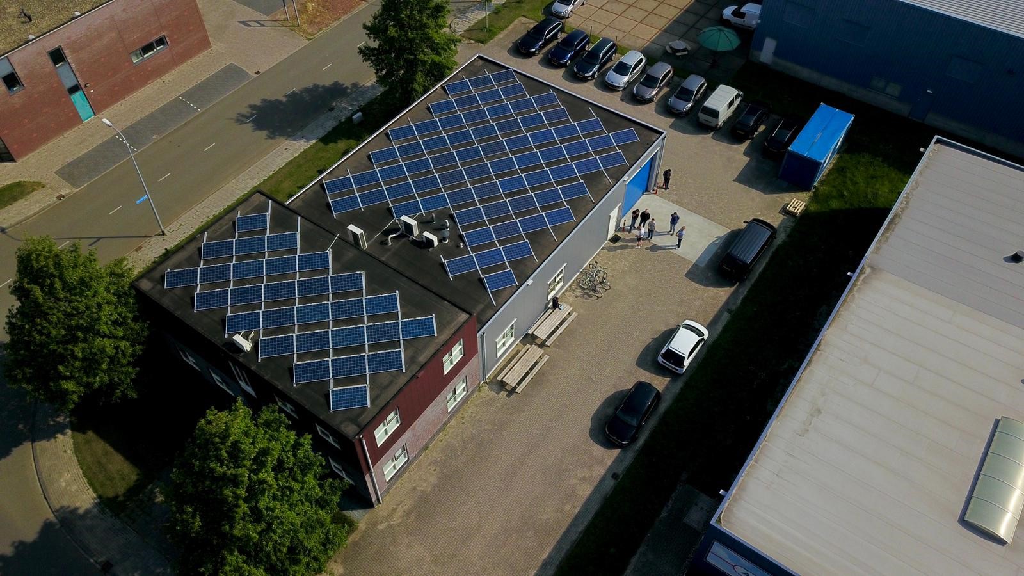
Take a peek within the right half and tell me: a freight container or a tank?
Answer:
freight container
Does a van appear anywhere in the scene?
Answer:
Yes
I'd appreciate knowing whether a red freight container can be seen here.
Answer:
No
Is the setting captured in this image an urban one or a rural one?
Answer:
urban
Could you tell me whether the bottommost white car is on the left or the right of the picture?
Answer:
right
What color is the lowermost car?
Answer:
black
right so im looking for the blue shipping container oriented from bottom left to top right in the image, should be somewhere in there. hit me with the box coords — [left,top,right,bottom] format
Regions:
[778,104,853,190]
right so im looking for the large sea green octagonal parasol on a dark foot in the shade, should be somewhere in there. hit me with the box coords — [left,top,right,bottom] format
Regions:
[694,28,737,67]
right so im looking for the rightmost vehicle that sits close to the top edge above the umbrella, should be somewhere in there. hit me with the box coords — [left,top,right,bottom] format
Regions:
[719,0,765,31]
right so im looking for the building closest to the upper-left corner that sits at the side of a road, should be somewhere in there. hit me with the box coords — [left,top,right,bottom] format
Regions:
[0,0,212,168]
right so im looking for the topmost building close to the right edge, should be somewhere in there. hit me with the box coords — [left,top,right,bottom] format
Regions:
[750,0,1024,158]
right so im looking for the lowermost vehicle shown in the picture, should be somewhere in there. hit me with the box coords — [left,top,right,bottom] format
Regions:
[603,376,665,447]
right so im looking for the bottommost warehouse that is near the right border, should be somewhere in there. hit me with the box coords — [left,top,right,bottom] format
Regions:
[688,134,1024,576]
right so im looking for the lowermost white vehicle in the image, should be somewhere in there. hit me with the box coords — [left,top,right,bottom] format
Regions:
[659,317,709,371]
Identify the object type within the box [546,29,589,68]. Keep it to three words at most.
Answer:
car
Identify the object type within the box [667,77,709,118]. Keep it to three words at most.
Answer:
car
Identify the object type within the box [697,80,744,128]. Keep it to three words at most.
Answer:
van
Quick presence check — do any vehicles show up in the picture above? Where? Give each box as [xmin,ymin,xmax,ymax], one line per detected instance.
[605,51,647,90]
[767,111,810,158]
[603,376,665,447]
[546,29,589,68]
[734,100,777,140]
[719,0,765,31]
[697,80,744,128]
[516,17,561,57]
[552,0,587,18]
[667,77,709,118]
[632,60,674,103]
[573,39,618,81]
[719,215,779,277]
[659,317,709,371]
